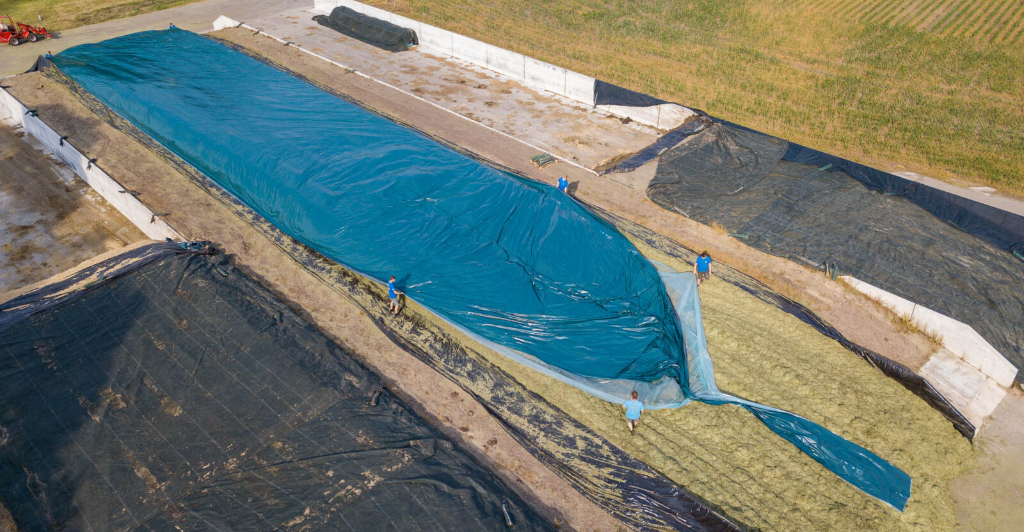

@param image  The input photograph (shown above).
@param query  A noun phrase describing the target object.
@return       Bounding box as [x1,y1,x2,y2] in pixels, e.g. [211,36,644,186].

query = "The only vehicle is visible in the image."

[0,14,57,44]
